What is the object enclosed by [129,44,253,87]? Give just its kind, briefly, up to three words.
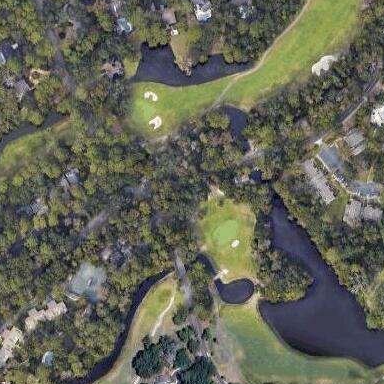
pond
